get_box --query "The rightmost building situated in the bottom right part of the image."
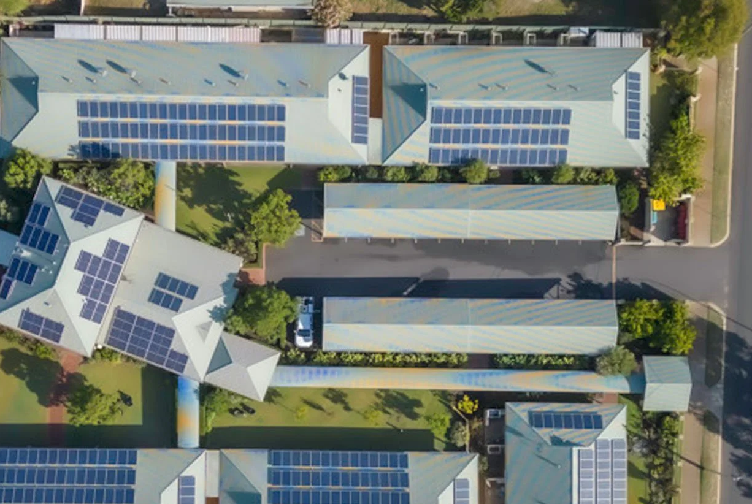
[633,357,695,412]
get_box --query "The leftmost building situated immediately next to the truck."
[0,175,280,400]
